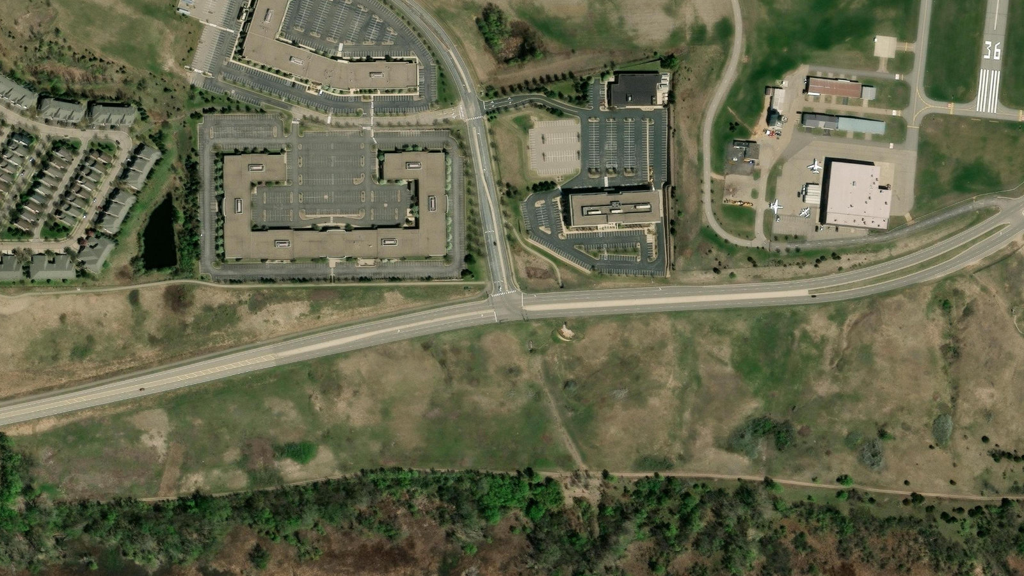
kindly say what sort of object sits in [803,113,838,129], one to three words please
shed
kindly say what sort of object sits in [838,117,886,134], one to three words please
shed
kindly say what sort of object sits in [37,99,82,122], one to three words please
house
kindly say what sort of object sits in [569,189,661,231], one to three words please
building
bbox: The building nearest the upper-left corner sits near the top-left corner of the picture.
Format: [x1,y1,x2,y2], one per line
[0,73,37,109]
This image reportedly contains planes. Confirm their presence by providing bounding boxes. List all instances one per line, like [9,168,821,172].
[807,159,822,173]
[769,199,782,214]
[801,208,810,217]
